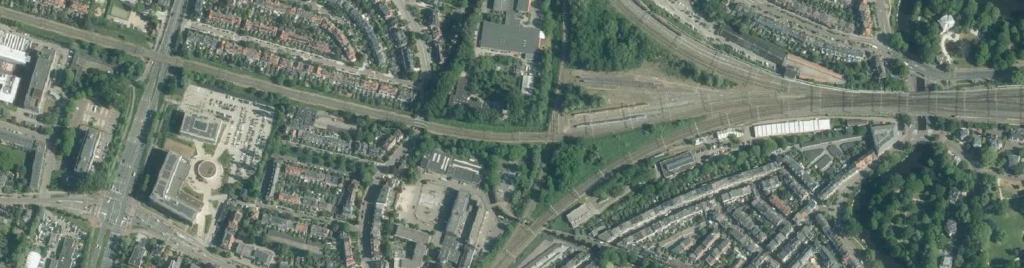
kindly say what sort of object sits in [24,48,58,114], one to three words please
building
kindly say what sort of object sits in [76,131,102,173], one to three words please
building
